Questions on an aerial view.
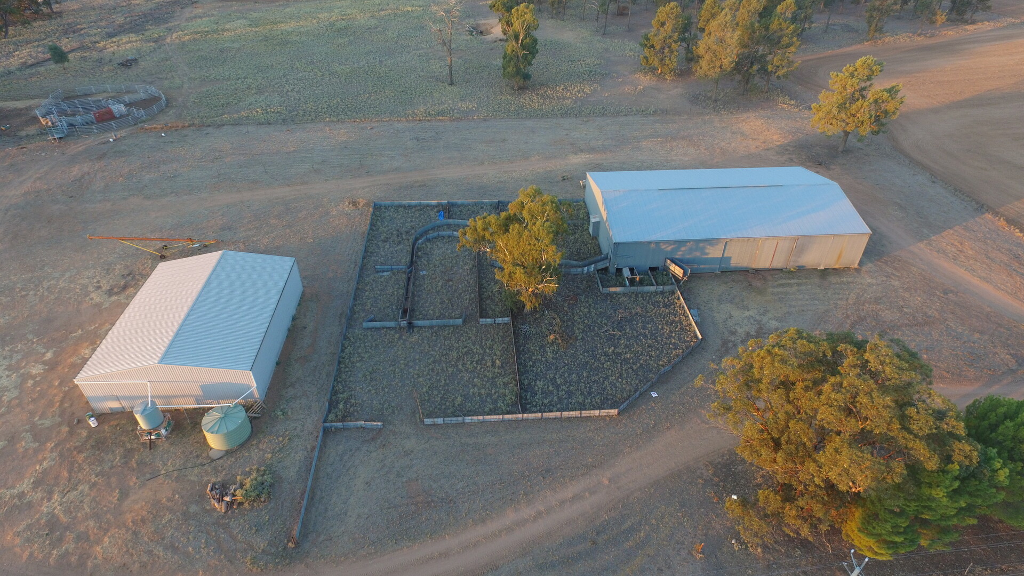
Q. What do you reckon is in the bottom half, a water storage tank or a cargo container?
water storage tank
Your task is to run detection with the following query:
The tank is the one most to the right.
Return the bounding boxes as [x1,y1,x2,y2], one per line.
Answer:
[202,402,252,450]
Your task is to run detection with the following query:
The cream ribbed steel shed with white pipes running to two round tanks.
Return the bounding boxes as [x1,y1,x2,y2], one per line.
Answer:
[72,250,303,414]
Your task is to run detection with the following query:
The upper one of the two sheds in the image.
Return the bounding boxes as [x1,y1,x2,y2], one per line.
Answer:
[575,165,874,275]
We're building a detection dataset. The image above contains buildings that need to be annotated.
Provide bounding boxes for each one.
[72,250,303,414]
[575,165,874,275]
